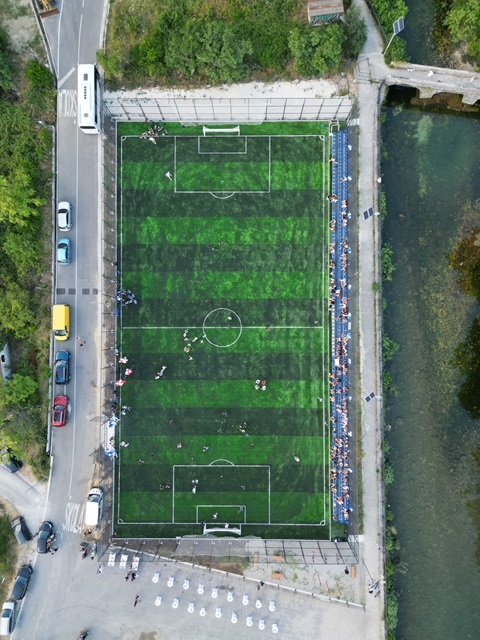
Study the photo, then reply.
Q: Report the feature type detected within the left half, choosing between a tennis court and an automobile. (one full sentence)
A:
What appears within the left half is an automobile.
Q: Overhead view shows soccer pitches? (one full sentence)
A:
Yes, there's a soccer pitch here.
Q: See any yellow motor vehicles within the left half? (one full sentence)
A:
Yes, I can see a yellow motor vehicle within the left half.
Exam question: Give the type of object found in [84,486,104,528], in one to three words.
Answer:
vehicle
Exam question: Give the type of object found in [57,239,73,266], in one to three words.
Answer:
car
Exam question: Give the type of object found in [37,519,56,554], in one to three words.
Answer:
car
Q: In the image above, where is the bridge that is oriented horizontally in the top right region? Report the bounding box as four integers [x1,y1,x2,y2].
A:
[374,61,480,112]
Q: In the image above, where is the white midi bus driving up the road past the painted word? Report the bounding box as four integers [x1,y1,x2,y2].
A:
[78,63,102,136]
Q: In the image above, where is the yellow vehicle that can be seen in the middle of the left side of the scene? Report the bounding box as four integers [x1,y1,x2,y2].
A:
[53,305,71,340]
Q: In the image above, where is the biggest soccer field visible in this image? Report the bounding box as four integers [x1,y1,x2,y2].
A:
[114,121,348,541]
